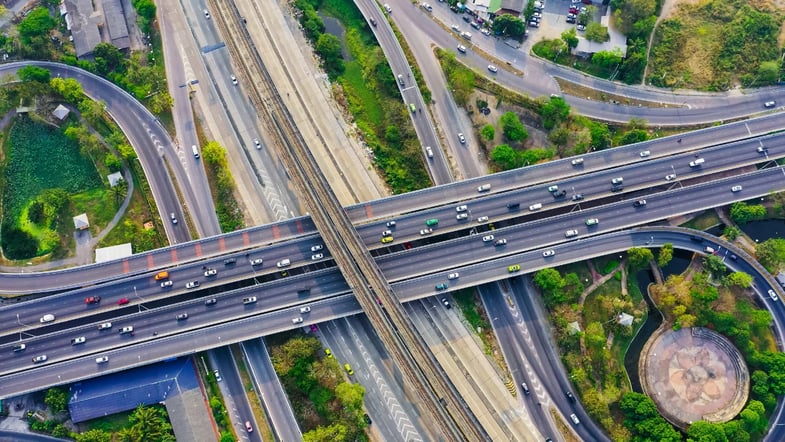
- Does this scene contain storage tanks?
No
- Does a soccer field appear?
No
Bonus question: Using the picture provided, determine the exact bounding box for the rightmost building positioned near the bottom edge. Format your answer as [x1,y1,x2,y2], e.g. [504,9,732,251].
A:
[67,357,219,442]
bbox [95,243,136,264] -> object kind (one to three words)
building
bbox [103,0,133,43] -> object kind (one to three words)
building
